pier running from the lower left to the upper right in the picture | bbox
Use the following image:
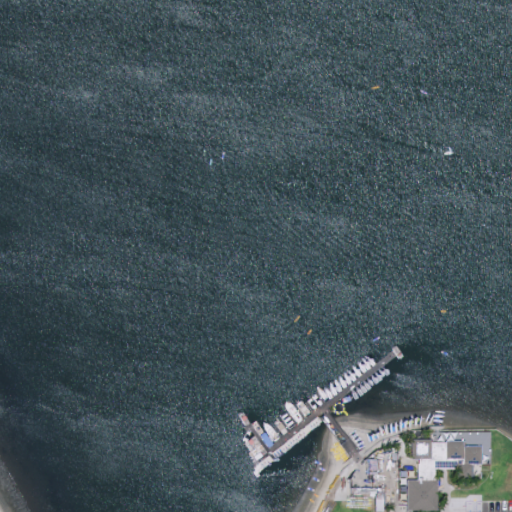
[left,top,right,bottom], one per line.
[253,352,398,465]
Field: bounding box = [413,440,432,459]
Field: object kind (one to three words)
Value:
building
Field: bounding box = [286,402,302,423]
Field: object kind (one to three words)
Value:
boat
